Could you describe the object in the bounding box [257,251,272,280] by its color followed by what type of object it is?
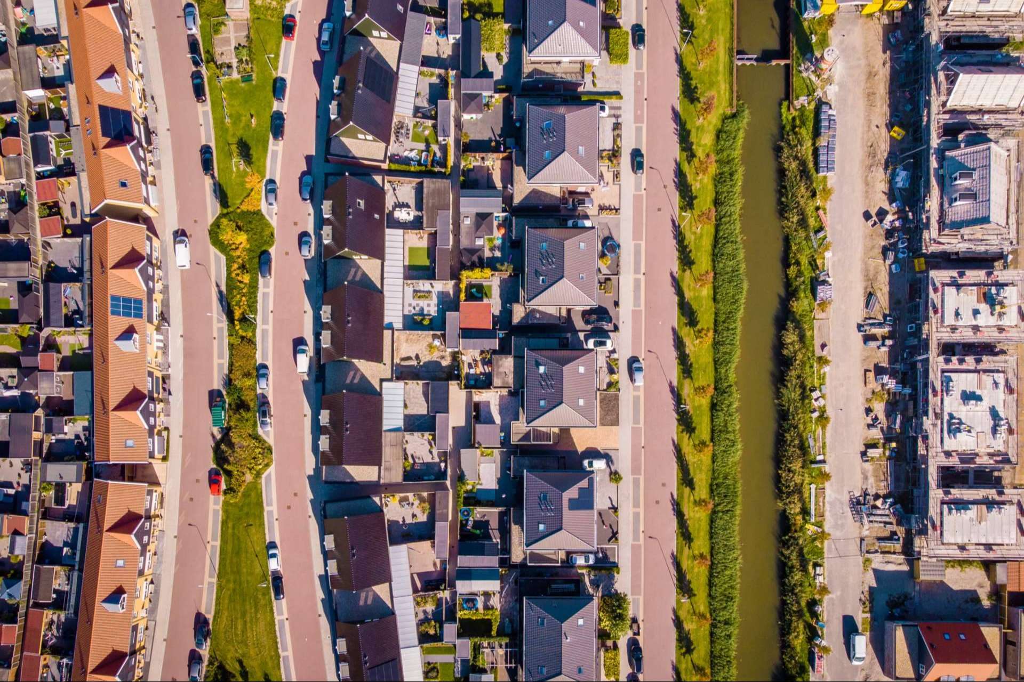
blue car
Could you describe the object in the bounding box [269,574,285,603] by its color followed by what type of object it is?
black car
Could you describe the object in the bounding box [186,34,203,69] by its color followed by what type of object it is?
black car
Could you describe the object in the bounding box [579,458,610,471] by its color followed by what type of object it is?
white vehicle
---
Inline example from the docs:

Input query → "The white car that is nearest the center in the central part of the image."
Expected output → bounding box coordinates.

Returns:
[585,337,617,352]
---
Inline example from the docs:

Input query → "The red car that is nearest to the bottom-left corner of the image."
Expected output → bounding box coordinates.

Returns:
[206,472,222,499]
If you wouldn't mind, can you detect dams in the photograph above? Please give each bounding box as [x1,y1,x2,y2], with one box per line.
[736,53,790,68]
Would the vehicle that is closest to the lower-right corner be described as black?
No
